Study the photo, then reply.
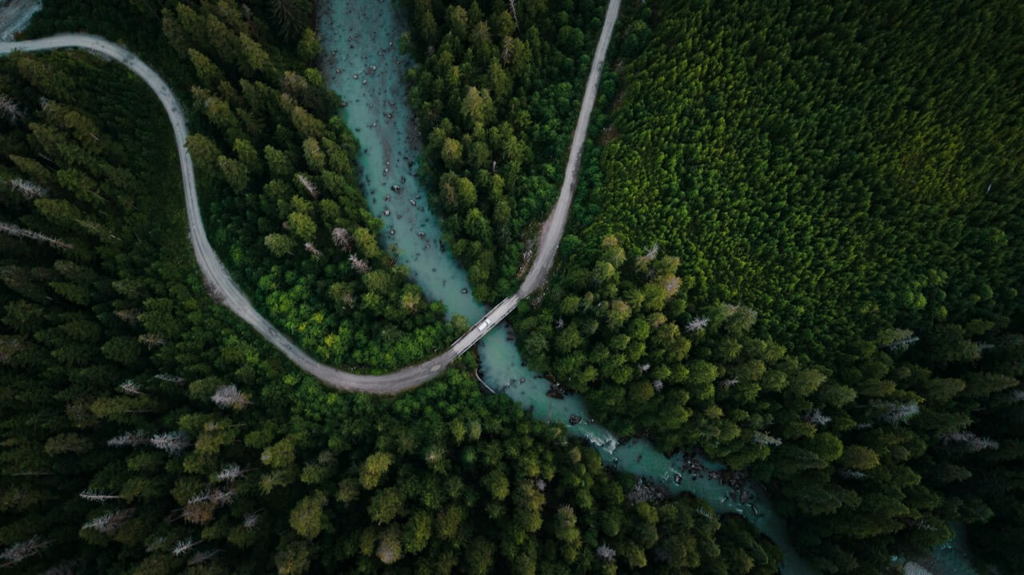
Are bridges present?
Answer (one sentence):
Yes, the frame does contain a bridge.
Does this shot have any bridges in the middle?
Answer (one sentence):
Yes, a bridge can be seen in the middle.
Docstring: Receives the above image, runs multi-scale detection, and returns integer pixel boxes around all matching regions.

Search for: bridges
[449,291,526,359]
